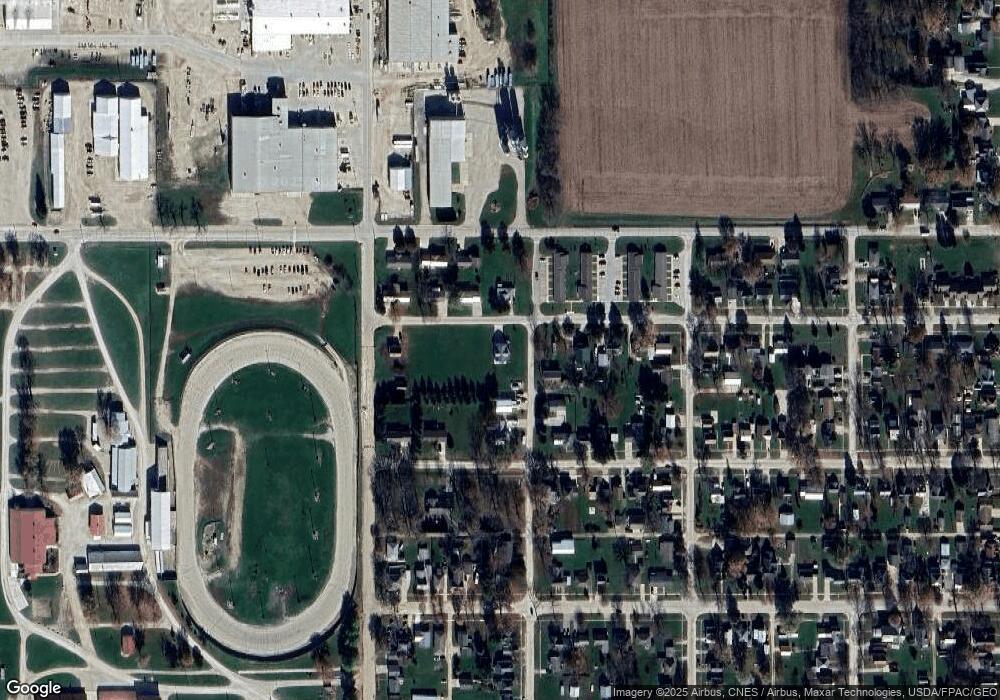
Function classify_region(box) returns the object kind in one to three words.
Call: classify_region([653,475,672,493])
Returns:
house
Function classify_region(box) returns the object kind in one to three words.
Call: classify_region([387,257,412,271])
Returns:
house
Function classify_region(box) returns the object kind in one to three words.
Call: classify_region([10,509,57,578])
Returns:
building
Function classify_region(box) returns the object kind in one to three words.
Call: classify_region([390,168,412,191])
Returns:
barn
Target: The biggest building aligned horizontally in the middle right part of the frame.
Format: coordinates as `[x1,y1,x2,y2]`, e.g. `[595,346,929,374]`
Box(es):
[935,271,999,296]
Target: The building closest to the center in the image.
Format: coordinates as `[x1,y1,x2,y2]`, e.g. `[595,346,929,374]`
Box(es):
[493,345,512,364]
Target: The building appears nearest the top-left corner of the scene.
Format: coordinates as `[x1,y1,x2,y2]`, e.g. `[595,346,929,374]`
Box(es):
[4,0,52,29]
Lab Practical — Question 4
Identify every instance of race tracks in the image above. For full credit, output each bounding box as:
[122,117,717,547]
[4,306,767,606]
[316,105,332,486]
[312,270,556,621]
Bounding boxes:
[175,326,360,662]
